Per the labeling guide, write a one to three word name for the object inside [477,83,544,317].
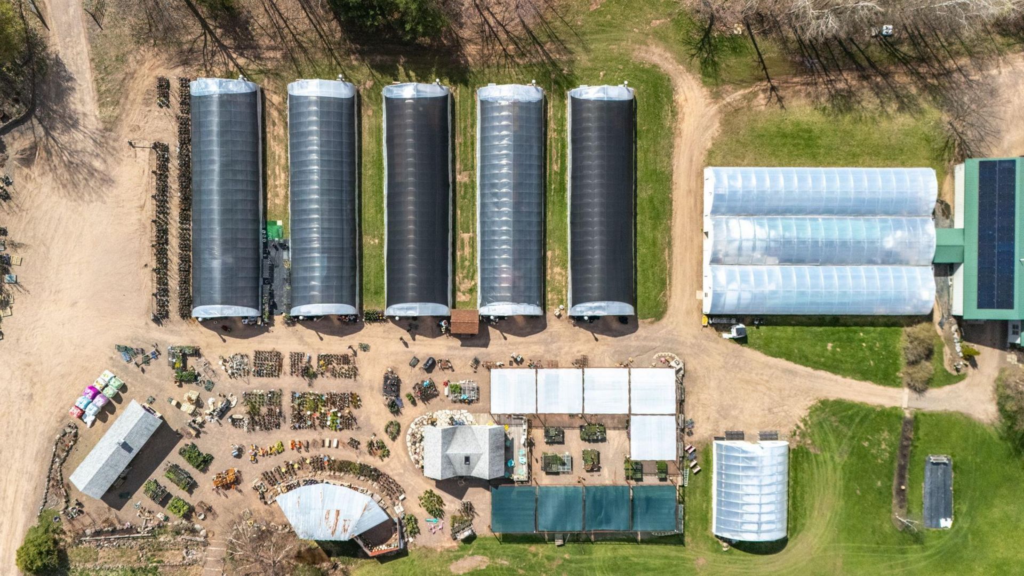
greenhouse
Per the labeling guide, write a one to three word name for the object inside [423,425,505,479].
building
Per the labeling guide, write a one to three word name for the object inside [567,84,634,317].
greenhouse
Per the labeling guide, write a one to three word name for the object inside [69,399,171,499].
shed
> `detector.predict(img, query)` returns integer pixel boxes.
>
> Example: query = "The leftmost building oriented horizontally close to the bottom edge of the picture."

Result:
[274,483,396,556]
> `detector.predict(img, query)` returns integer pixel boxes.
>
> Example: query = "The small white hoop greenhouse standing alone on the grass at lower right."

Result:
[712,440,790,543]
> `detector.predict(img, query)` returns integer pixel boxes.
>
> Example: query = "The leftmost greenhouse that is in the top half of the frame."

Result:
[189,76,265,320]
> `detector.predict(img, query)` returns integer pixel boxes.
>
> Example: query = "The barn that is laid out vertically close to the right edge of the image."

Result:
[943,154,1024,347]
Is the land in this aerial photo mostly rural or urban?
urban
